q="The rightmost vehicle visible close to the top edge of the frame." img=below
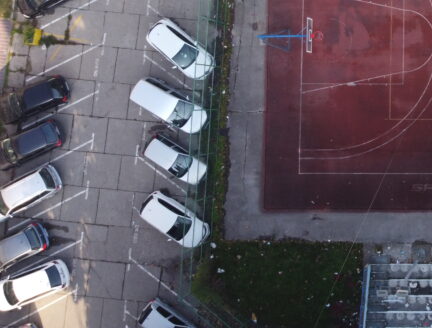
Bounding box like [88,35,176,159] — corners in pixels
[144,16,220,81]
